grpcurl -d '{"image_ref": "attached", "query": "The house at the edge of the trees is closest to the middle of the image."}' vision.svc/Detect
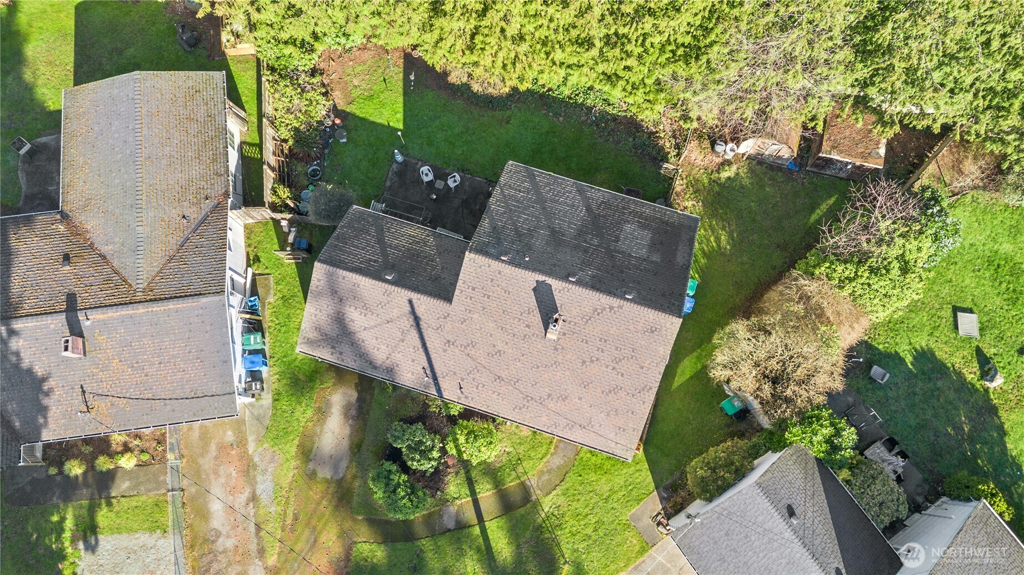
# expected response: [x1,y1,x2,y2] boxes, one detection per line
[296,157,700,462]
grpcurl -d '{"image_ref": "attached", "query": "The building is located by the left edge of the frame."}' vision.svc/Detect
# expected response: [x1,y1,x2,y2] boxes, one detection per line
[0,65,260,470]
